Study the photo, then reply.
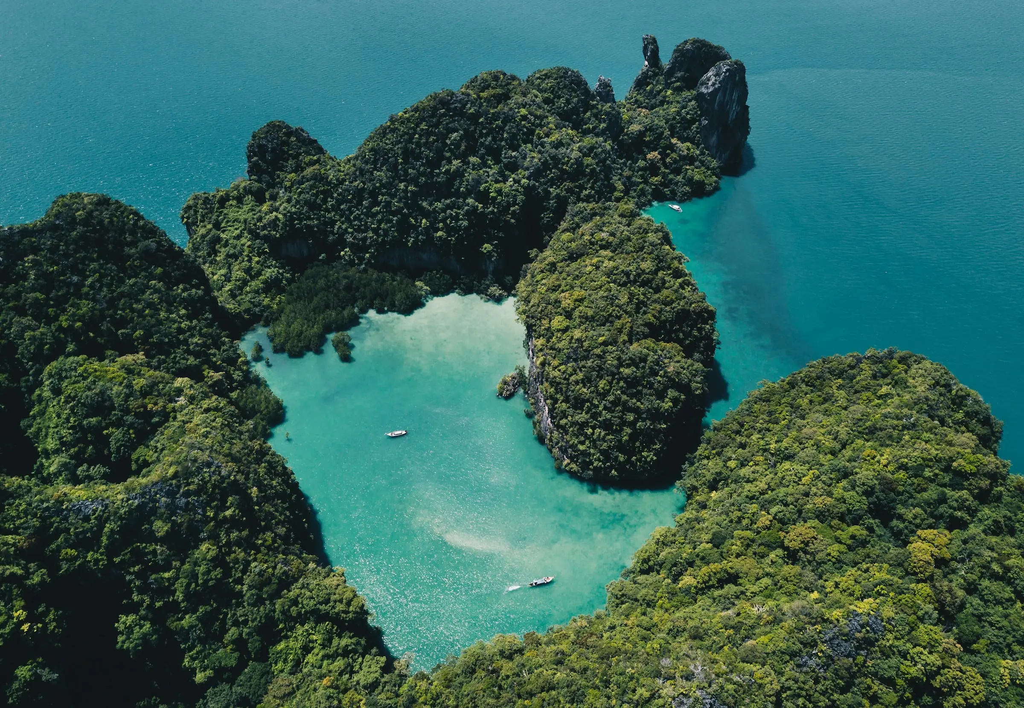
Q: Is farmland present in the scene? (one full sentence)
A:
No, the picture contains no farmland.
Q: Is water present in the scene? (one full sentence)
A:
Yes, there is water in the image.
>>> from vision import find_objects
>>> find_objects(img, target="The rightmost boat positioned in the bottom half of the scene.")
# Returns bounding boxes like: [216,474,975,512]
[526,573,555,588]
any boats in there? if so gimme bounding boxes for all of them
[383,429,407,436]
[670,204,683,212]
[526,573,555,588]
